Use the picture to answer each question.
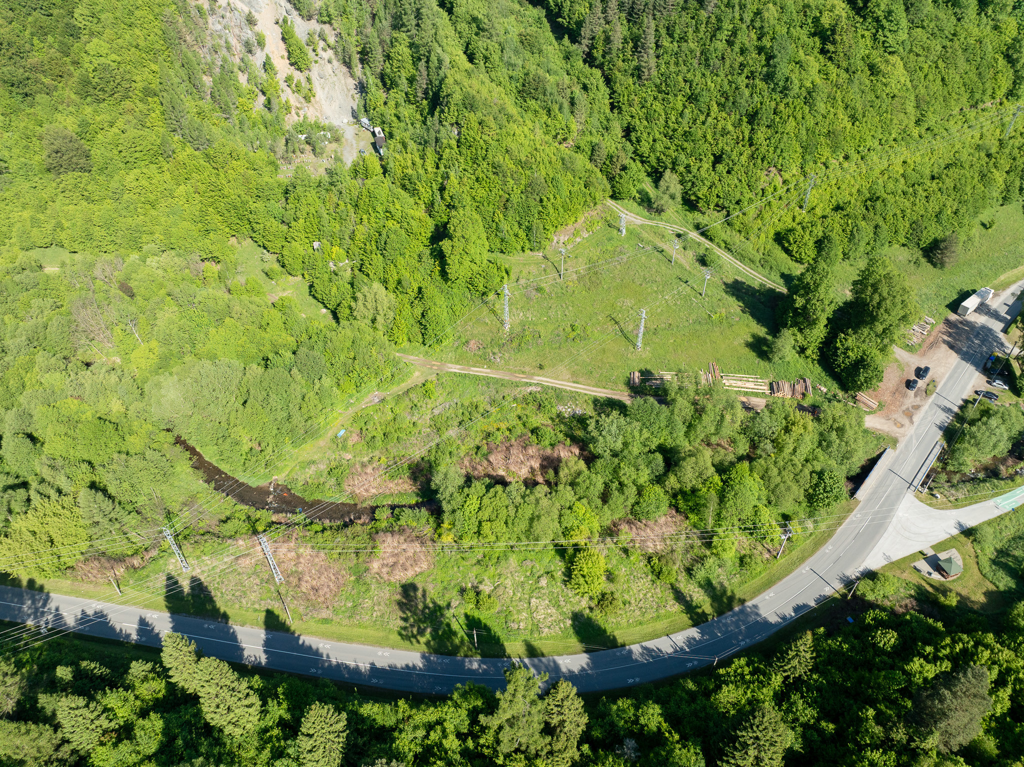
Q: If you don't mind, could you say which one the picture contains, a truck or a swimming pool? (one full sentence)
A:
The one in the frame is a truck.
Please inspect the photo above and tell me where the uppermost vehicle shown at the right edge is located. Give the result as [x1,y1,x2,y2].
[959,286,1000,318]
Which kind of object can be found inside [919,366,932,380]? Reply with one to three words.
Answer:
vehicle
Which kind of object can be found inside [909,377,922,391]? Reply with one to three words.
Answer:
vehicle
